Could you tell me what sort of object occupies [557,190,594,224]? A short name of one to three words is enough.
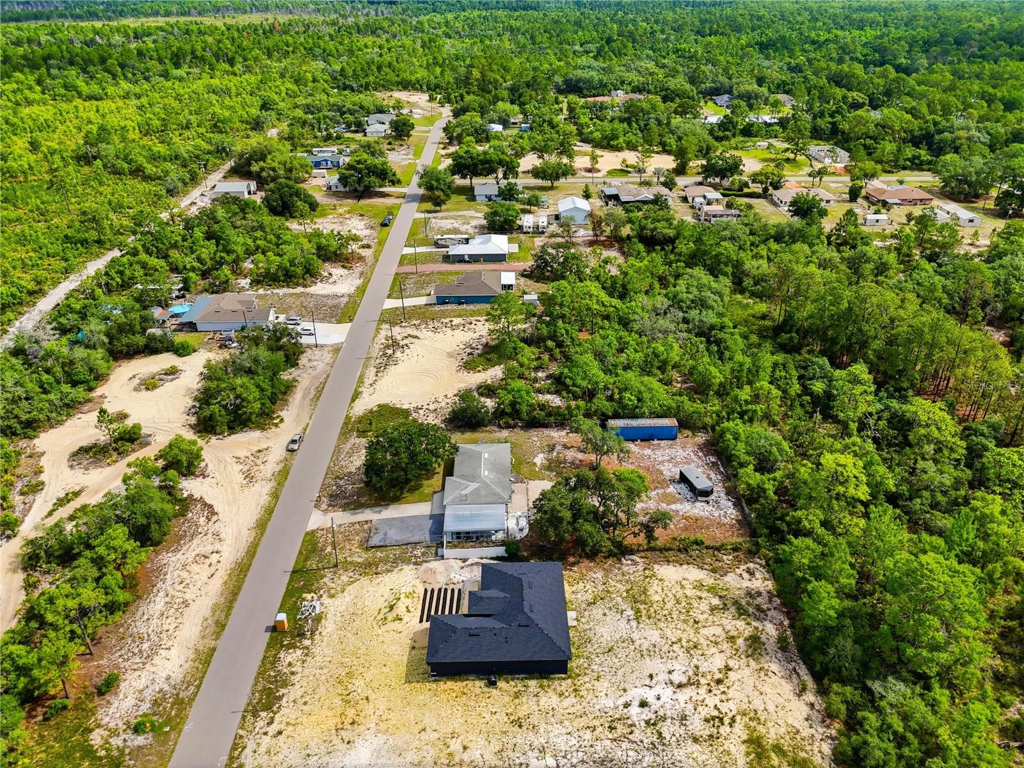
building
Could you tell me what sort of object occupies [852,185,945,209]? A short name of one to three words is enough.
house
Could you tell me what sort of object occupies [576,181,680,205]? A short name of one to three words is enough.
house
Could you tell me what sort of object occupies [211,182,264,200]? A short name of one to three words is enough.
building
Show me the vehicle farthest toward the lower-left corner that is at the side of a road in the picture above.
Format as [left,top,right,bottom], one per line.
[284,432,305,451]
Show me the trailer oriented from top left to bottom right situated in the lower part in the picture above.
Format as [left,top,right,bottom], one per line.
[676,465,710,505]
